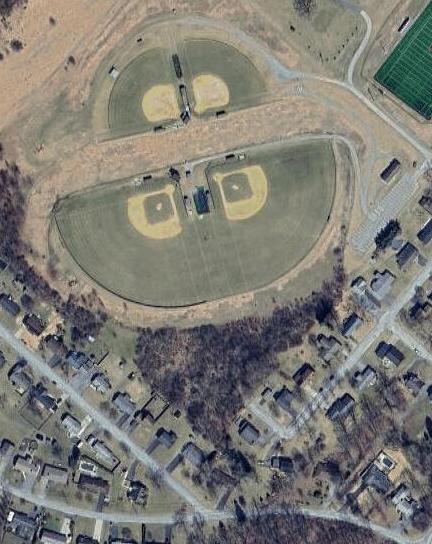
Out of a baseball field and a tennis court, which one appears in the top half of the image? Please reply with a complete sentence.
What appears in the top half of the image is a baseball field.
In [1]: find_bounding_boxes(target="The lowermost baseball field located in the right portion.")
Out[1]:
[189,135,336,302]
